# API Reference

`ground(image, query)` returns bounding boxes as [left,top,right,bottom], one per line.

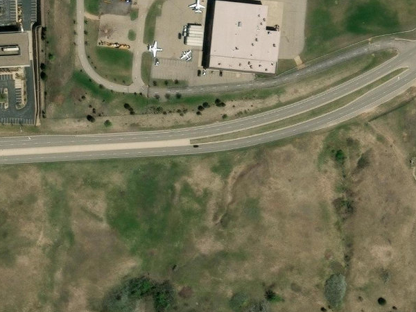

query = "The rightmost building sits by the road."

[209,1,280,76]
